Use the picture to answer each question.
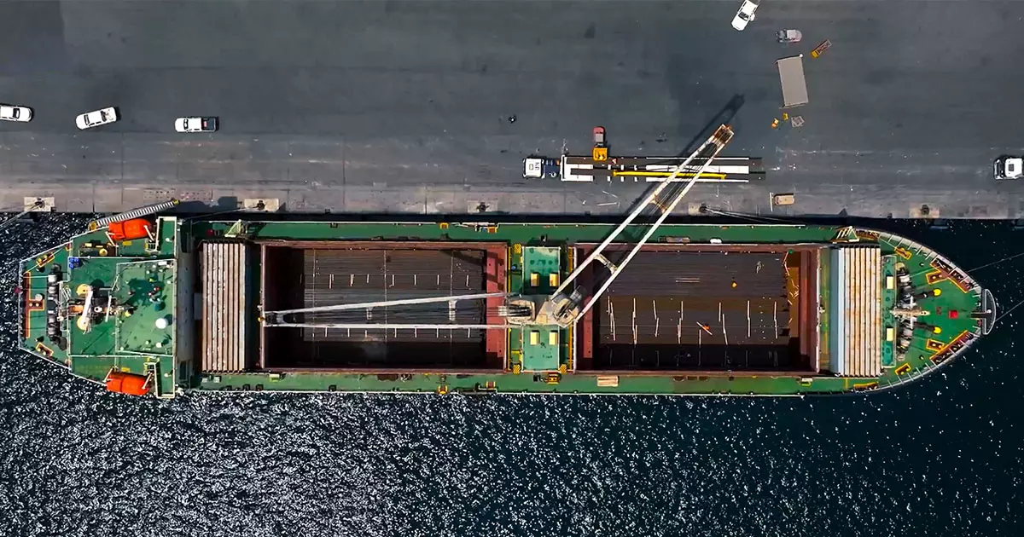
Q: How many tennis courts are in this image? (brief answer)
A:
zero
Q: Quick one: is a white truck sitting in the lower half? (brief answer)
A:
No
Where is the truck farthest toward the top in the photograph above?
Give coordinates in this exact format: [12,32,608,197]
[730,0,760,30]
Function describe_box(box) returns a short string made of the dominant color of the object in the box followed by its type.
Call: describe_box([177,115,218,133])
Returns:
white vehicle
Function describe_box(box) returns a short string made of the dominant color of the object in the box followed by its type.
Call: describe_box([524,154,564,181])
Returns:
white truck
